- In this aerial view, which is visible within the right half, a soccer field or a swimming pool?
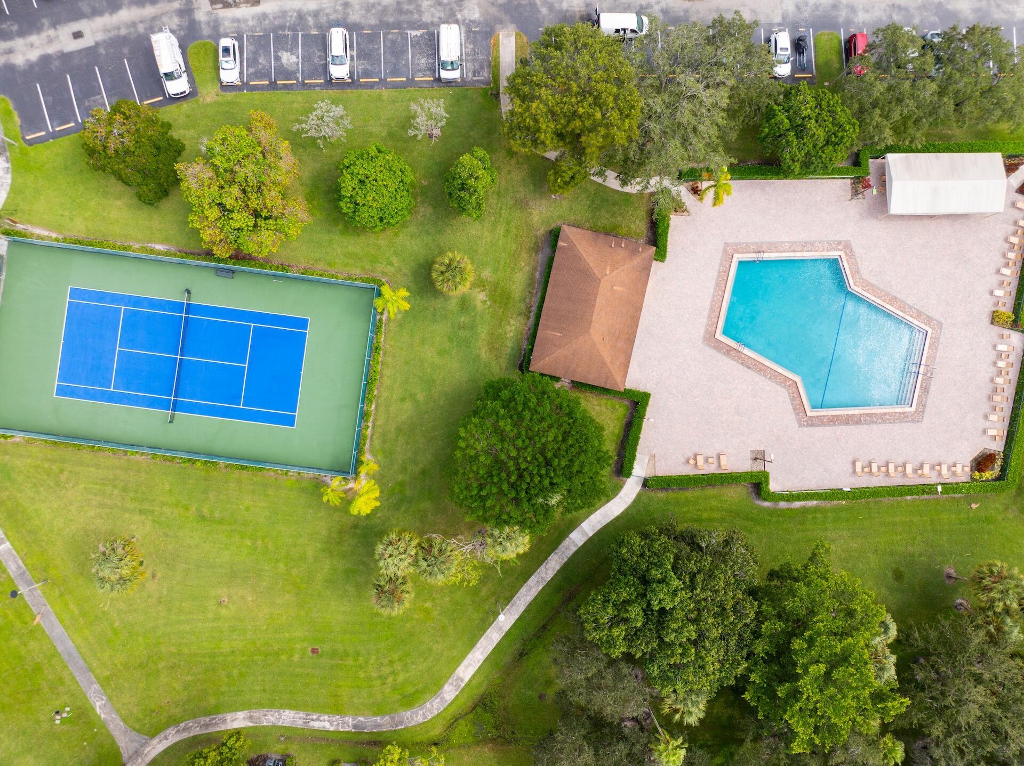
swimming pool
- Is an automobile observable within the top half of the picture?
Yes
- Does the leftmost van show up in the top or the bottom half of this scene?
top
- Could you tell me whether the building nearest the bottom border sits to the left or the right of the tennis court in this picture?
right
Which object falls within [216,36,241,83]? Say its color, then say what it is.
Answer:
white car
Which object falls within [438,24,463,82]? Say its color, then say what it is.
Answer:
white vehicle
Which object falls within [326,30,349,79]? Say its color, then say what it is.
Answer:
white car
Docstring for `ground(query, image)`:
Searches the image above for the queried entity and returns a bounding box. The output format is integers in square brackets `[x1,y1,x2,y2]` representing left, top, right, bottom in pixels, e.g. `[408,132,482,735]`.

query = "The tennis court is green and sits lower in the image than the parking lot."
[0,242,374,475]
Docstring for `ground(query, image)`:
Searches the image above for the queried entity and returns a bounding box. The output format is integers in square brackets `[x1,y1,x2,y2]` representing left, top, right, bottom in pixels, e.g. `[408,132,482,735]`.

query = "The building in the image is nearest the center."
[530,224,656,391]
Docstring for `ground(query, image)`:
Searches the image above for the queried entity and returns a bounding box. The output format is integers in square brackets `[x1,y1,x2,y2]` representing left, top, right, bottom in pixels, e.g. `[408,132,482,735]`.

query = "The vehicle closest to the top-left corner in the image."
[148,24,191,97]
